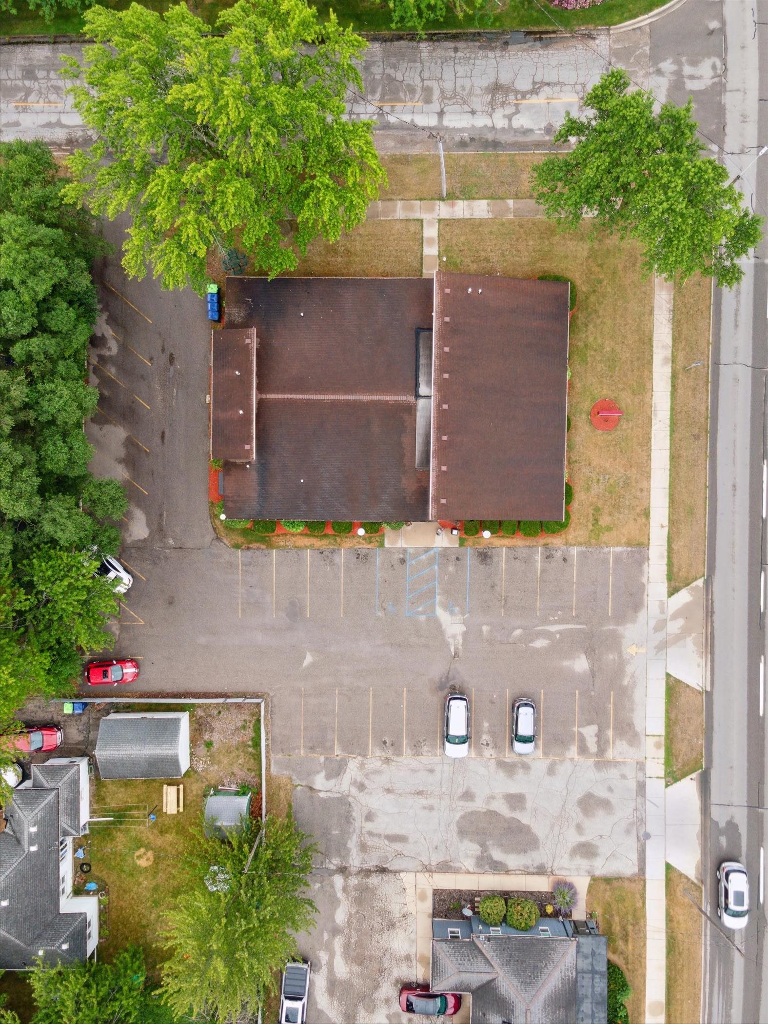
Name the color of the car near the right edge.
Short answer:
white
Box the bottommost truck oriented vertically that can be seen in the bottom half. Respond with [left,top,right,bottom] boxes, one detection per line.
[275,961,309,1024]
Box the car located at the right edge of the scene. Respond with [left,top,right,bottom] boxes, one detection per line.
[717,864,751,929]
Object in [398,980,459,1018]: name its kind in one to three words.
car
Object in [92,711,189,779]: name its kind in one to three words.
building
